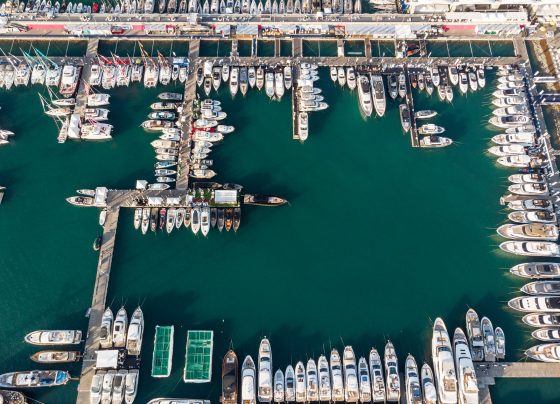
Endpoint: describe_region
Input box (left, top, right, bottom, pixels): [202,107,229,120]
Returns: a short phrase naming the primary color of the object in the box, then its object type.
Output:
white boat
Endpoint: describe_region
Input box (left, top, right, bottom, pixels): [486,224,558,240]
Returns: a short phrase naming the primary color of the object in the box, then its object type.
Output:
white boat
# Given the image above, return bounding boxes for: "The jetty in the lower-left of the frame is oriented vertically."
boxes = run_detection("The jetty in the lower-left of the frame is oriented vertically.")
[75,207,120,404]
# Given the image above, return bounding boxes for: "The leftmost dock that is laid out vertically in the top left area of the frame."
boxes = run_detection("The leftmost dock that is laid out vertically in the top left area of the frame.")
[68,65,90,138]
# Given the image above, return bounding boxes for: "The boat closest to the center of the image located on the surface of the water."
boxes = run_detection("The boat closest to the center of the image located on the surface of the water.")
[244,194,288,207]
